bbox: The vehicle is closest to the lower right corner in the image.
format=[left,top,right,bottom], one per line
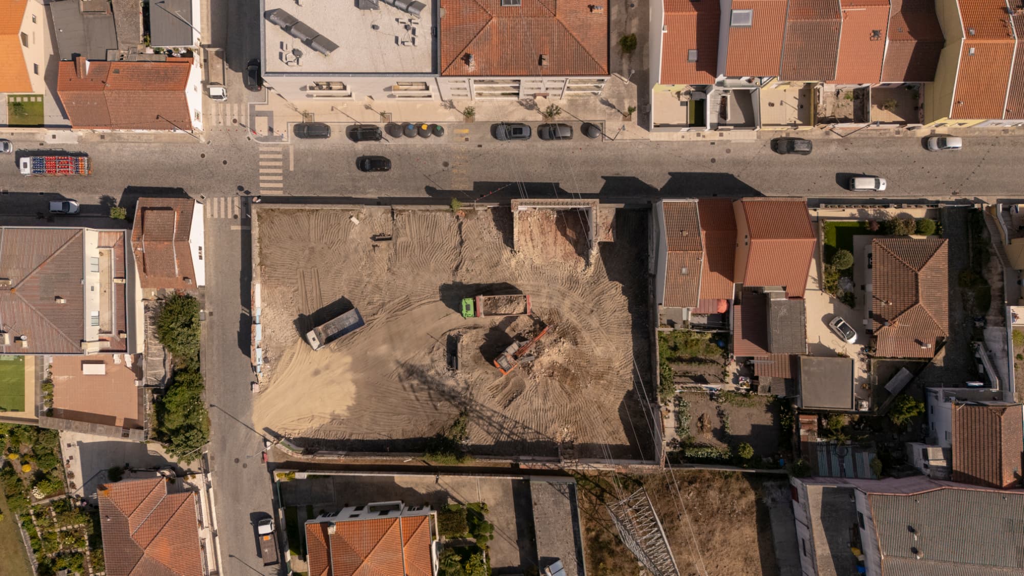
[827,312,859,348]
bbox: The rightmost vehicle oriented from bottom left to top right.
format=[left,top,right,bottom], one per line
[488,312,559,379]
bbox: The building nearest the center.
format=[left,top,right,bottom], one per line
[511,198,624,269]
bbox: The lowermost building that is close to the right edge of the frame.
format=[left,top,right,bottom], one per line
[844,474,1024,576]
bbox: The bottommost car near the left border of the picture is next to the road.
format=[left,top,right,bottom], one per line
[46,199,82,215]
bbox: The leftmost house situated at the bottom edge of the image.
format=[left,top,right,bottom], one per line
[97,469,218,576]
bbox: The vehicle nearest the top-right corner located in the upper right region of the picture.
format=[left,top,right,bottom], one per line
[926,135,964,152]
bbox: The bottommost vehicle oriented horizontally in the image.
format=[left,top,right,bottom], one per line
[461,295,536,319]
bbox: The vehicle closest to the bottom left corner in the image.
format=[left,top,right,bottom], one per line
[254,513,283,568]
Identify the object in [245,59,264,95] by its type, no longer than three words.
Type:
car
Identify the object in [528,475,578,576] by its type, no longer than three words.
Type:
building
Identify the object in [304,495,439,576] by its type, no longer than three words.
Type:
house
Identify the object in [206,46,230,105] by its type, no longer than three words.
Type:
truck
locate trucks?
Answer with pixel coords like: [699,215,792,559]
[461,295,536,319]
[254,513,283,568]
[206,46,230,105]
[19,154,98,177]
[302,302,369,354]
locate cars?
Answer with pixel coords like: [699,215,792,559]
[848,175,884,192]
[773,138,812,155]
[541,124,573,141]
[926,135,964,152]
[46,199,82,215]
[496,123,533,141]
[359,155,393,173]
[827,312,859,348]
[350,125,383,142]
[296,123,332,140]
[0,138,21,155]
[245,59,264,95]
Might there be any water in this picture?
No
